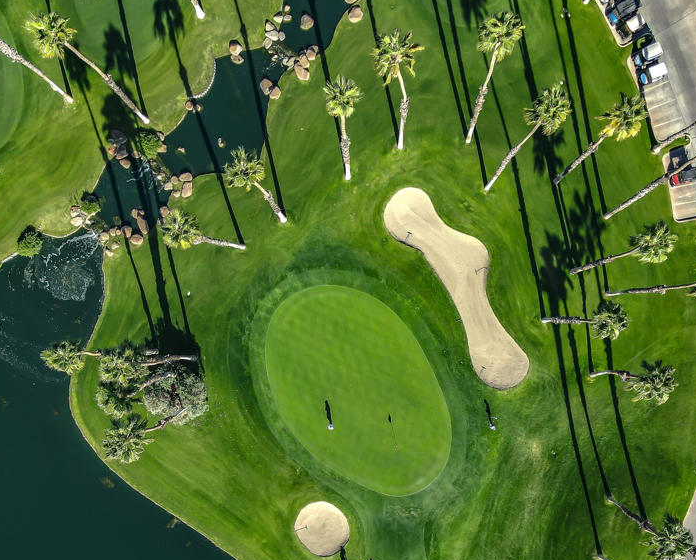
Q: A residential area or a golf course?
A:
golf course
